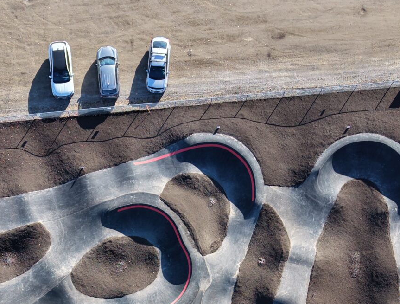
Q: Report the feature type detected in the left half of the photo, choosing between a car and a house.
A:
car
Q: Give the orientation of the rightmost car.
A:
from top to bottom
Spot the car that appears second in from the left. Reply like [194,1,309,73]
[94,43,122,97]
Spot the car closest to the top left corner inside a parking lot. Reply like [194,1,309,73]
[48,39,75,99]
